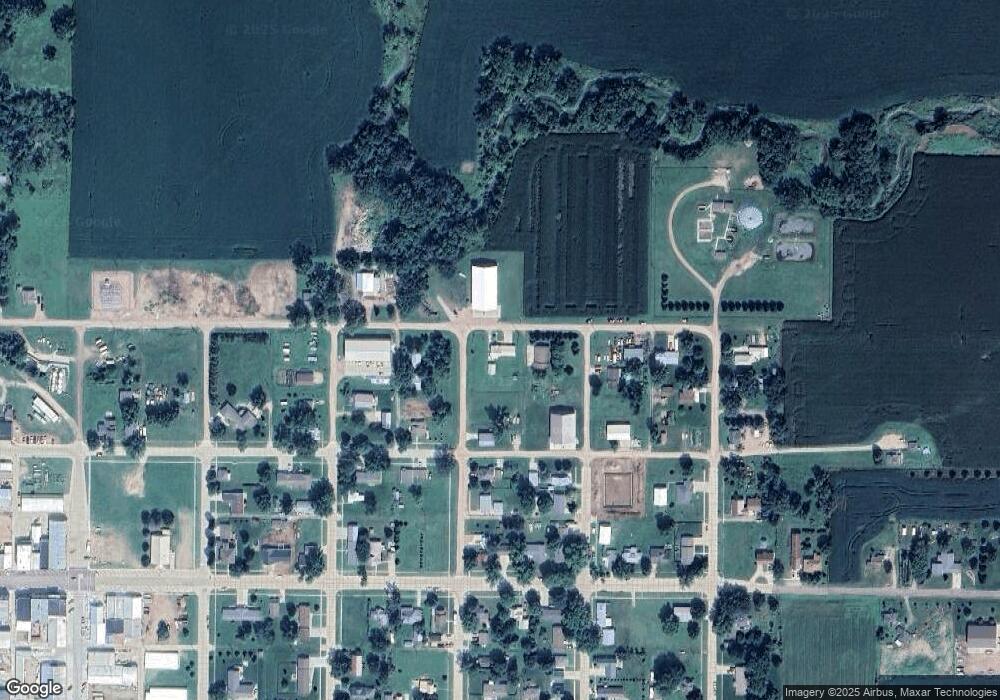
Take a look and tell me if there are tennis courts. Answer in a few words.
No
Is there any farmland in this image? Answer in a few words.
Yes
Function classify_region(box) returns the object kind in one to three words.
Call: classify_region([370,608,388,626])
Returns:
house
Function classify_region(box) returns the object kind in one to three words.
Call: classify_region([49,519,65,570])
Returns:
building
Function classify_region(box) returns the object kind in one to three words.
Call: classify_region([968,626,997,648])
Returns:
shed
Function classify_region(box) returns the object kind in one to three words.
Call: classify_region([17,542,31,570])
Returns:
building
